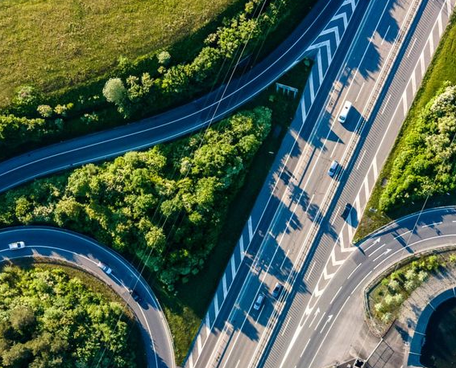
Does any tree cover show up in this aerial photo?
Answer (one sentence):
Yes, the picture does contain tree cover.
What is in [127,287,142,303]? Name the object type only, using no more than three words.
car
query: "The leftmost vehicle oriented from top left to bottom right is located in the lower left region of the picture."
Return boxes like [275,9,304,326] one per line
[97,260,111,275]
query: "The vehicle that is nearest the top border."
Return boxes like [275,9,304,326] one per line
[339,100,353,122]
